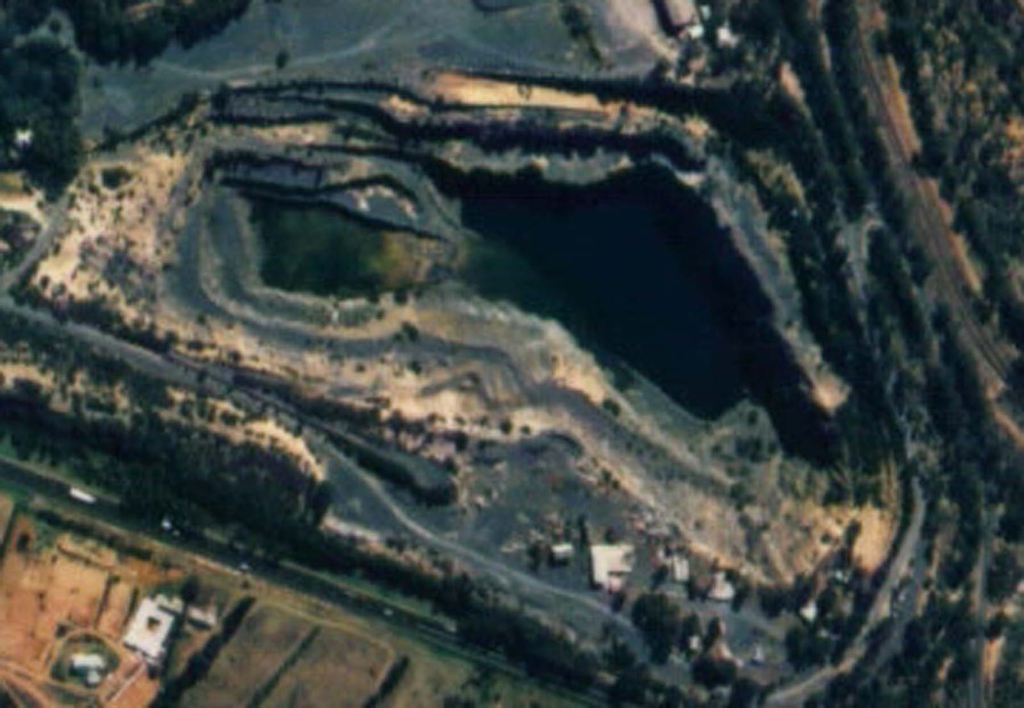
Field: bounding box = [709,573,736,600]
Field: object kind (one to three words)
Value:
house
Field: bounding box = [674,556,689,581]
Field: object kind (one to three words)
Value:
shed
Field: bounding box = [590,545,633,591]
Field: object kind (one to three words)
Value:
building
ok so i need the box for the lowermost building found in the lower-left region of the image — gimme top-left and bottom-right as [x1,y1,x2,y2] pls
[71,654,104,684]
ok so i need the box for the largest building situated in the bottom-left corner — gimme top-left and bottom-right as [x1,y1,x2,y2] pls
[124,595,181,667]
